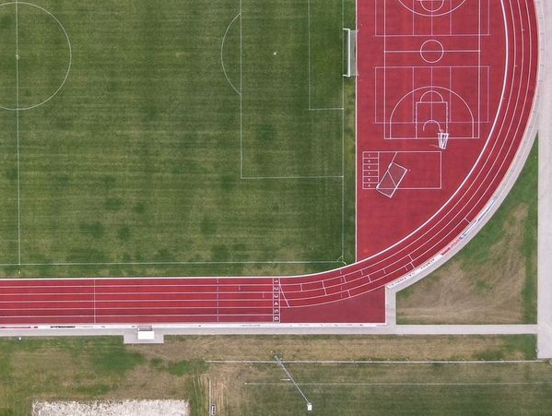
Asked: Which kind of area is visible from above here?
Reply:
sports ground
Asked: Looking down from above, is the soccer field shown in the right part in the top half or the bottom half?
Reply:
bottom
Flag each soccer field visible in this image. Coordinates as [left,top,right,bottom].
[232,362,552,416]
[0,0,356,279]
